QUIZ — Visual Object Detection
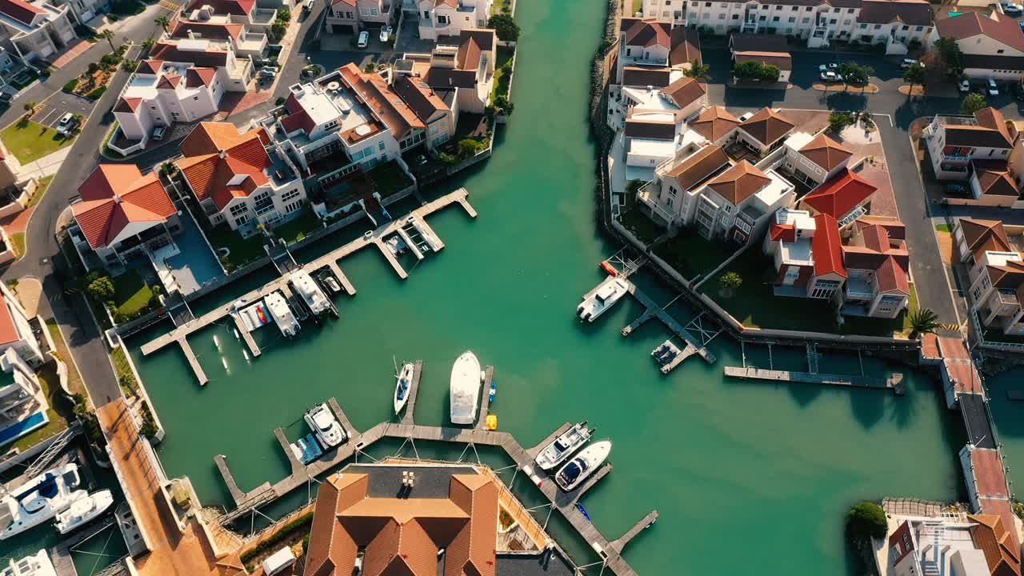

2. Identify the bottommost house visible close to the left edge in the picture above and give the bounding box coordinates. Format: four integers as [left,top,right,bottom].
[0,374,53,429]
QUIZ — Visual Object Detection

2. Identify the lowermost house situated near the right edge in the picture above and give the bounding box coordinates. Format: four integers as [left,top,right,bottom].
[890,517,1020,576]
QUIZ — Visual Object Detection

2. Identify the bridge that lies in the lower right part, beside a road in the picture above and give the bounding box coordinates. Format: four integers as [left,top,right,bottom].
[918,332,1017,518]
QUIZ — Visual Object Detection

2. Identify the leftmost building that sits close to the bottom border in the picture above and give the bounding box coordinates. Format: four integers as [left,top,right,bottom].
[304,463,580,576]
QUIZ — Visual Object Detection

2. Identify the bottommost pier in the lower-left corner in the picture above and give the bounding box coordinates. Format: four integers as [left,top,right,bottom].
[48,508,119,576]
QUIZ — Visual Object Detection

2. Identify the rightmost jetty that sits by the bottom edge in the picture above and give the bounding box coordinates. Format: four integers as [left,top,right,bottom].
[272,360,660,576]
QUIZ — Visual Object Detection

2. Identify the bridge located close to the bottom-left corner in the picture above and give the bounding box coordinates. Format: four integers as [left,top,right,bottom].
[93,398,194,554]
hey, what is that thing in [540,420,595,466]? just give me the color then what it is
white boat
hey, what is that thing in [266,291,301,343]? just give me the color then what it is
white boat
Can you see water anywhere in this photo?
Yes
